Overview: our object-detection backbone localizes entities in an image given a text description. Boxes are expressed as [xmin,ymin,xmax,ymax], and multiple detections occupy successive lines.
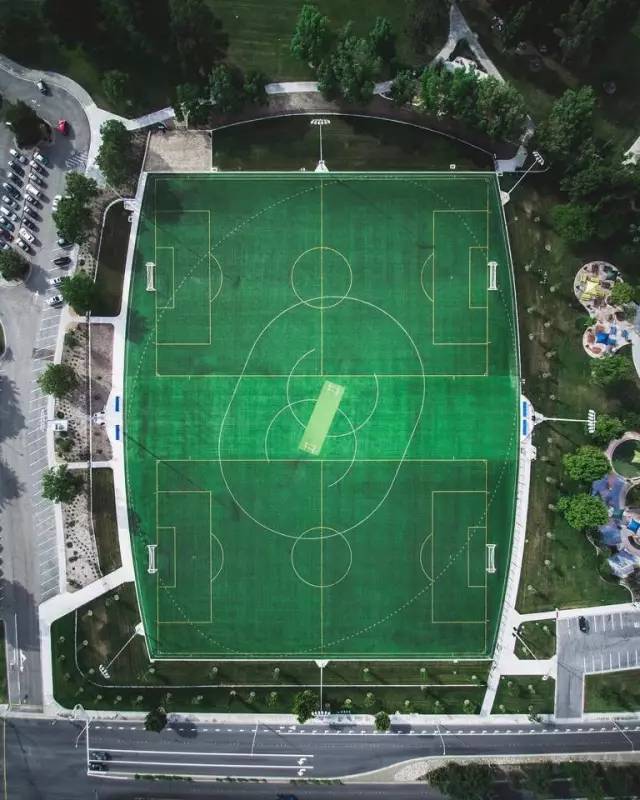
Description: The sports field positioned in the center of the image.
[123,173,520,659]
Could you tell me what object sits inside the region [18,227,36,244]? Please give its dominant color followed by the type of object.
white vehicle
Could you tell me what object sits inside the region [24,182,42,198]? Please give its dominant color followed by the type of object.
white vehicle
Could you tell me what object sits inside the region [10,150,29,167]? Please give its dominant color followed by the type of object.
gray vehicle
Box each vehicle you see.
[24,194,41,209]
[8,161,25,177]
[56,240,72,248]
[3,195,20,210]
[3,182,23,199]
[22,216,37,230]
[10,150,29,167]
[32,150,49,166]
[577,615,588,633]
[91,750,109,759]
[0,216,16,230]
[0,204,20,221]
[7,171,23,186]
[46,294,64,305]
[59,120,67,136]
[30,160,46,174]
[18,227,36,244]
[52,193,63,210]
[54,256,72,266]
[0,227,14,242]
[28,171,45,186]
[16,238,31,253]
[23,204,39,219]
[90,762,106,771]
[24,182,42,198]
